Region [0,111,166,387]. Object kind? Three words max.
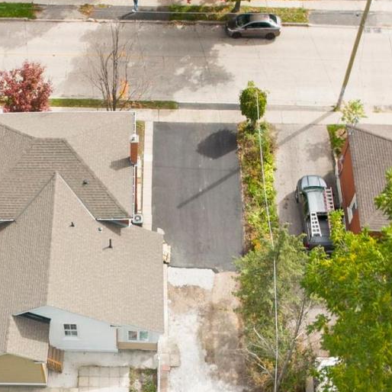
house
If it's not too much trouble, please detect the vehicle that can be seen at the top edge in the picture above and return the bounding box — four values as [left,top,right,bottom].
[224,17,282,42]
